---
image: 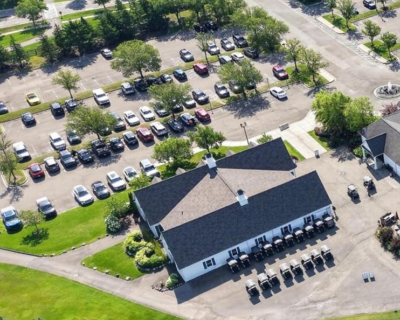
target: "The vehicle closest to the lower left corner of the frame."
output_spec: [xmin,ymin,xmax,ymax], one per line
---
[0,207,24,232]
